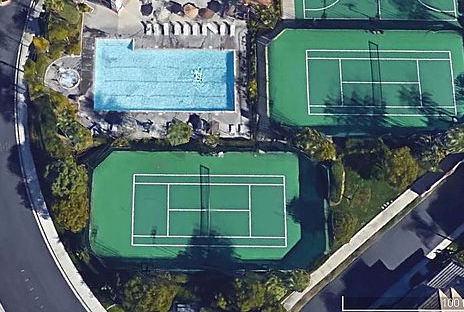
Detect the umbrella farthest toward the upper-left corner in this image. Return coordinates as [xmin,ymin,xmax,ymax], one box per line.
[155,6,172,20]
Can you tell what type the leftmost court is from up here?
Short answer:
tennis court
